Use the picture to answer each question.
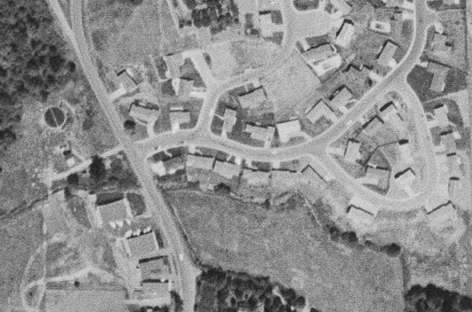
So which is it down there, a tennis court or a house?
house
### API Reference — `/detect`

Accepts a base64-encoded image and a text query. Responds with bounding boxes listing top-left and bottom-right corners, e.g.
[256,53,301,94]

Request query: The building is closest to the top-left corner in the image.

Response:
[116,70,140,94]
